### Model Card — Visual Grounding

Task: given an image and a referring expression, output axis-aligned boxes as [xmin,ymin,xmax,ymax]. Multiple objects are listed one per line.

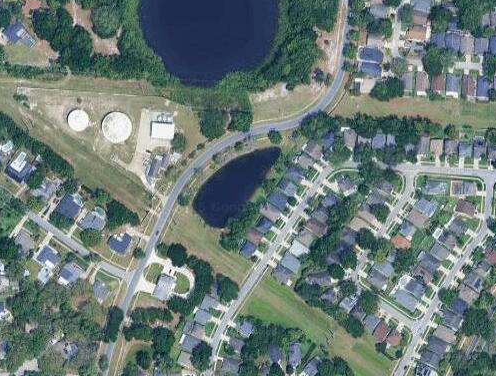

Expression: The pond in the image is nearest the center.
[193,146,280,227]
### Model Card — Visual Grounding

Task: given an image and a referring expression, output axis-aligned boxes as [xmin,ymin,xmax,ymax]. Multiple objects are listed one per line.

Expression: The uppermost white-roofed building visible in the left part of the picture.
[151,121,175,140]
